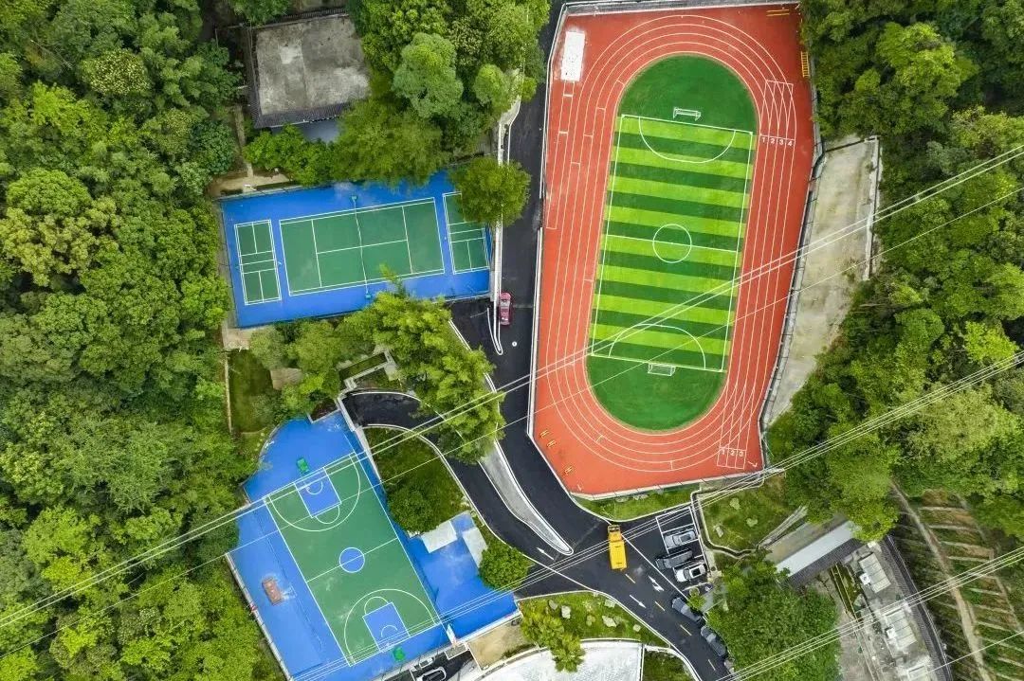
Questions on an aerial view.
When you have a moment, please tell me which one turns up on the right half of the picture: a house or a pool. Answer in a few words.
house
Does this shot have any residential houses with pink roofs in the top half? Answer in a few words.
No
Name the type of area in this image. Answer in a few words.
sports ground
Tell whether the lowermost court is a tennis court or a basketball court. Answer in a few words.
basketball court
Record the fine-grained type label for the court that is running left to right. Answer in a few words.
tennis court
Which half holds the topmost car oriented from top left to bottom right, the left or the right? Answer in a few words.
right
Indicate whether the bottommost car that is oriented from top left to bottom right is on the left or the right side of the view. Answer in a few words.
right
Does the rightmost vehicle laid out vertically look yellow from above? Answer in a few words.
Yes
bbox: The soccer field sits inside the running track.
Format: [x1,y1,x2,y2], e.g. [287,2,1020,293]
[585,54,759,433]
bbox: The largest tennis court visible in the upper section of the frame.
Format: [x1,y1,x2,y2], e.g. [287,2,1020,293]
[279,198,445,296]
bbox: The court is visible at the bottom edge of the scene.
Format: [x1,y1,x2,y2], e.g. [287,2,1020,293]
[264,452,442,667]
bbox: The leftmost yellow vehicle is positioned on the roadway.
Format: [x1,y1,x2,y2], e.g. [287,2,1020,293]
[607,528,627,570]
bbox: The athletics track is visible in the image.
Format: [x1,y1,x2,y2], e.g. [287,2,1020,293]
[532,3,814,499]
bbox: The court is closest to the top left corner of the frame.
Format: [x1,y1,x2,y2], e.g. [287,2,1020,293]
[234,220,282,305]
